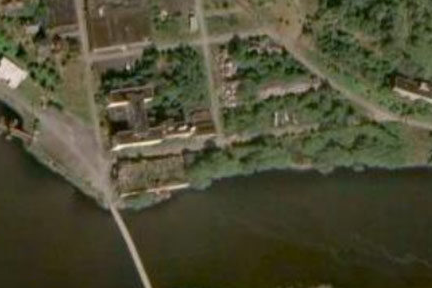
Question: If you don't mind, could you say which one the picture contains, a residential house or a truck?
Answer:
residential house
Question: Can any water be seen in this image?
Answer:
Yes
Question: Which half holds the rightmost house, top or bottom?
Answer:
top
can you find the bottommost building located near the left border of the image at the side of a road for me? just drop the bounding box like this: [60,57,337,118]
[0,57,28,91]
